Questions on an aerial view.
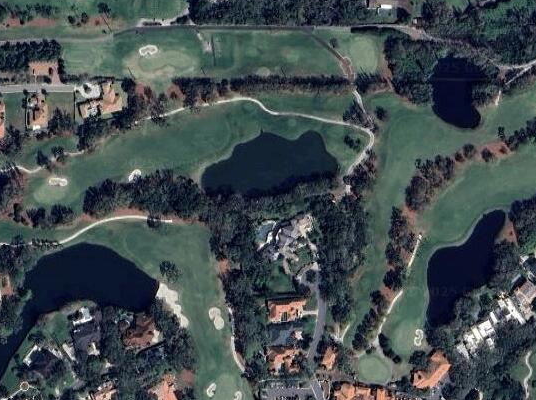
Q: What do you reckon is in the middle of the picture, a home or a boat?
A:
home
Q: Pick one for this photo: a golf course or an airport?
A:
golf course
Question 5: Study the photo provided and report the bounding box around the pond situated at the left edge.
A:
[0,242,158,382]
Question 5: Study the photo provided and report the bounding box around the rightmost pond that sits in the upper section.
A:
[432,57,483,129]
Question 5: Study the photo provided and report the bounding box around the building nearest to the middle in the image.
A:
[264,214,316,260]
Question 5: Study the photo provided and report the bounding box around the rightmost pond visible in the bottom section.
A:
[425,210,506,329]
